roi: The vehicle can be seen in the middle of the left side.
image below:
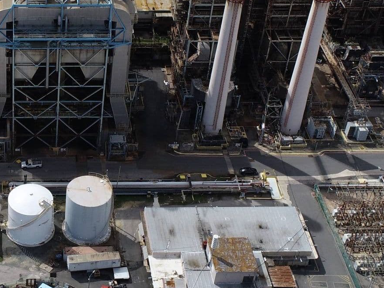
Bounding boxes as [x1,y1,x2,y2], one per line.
[21,158,45,170]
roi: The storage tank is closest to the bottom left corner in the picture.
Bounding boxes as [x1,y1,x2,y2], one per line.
[4,185,55,246]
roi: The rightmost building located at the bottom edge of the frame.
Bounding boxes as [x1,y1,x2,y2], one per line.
[146,207,322,288]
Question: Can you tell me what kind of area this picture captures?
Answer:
industrial area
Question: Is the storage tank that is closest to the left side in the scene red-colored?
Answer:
No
